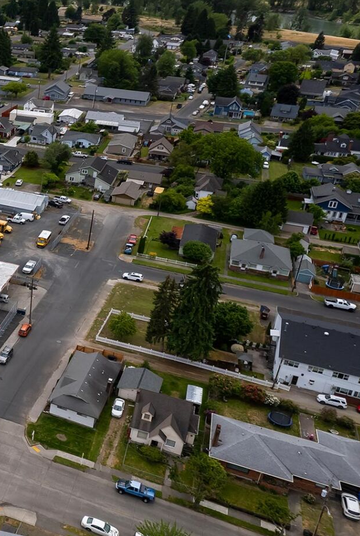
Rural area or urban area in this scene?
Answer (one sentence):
From above, the setting appears urban.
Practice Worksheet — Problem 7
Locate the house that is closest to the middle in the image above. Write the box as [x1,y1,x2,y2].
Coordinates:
[178,221,222,259]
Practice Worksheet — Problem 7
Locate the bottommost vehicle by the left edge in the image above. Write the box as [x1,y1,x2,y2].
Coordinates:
[0,347,15,363]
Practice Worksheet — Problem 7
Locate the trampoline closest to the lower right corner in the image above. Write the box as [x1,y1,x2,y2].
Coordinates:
[267,411,294,429]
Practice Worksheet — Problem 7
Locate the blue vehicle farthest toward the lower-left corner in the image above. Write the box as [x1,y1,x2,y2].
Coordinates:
[116,481,156,504]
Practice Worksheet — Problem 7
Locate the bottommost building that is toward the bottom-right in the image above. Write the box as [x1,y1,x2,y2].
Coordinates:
[210,415,360,497]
